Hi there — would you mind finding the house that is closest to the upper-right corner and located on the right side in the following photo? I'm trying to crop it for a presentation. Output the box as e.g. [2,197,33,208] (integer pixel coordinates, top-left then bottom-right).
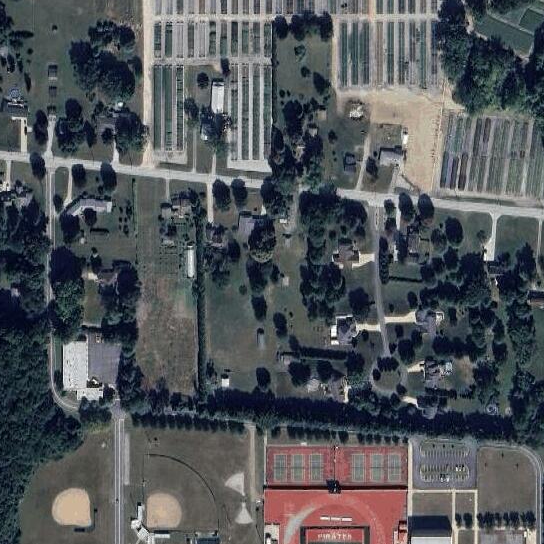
[379,149,403,165]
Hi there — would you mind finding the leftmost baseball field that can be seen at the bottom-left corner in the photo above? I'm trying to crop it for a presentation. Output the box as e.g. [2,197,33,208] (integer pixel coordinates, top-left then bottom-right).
[53,488,91,525]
